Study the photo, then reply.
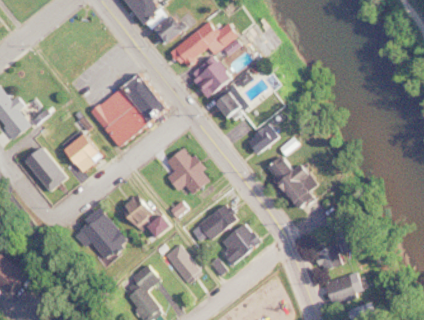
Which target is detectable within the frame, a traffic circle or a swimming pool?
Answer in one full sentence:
There is a swimming pool in the scene.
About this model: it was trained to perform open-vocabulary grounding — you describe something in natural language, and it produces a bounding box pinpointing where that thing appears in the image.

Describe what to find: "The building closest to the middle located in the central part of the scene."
[166,148,212,194]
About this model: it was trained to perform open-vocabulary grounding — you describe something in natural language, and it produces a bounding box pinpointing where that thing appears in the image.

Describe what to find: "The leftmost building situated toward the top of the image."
[0,86,32,138]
